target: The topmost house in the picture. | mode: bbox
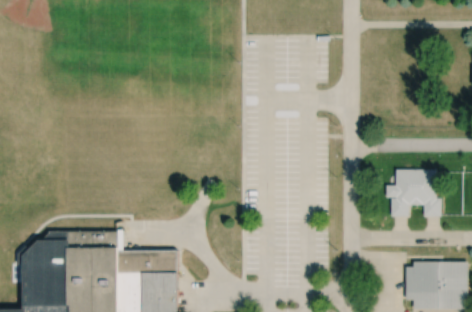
[388,168,442,216]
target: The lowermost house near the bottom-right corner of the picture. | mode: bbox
[406,260,470,310]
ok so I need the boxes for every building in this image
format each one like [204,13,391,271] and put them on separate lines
[0,228,178,312]
[388,168,442,216]
[406,260,470,310]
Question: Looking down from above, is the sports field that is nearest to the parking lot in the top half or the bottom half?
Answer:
top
